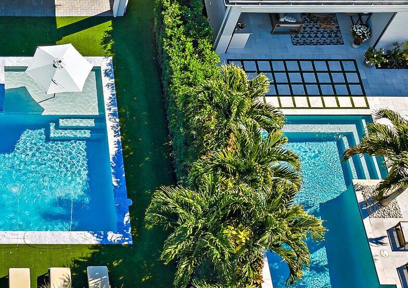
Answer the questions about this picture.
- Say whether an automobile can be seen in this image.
No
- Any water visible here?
Yes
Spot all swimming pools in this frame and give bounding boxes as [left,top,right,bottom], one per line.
[0,56,131,244]
[259,108,406,288]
